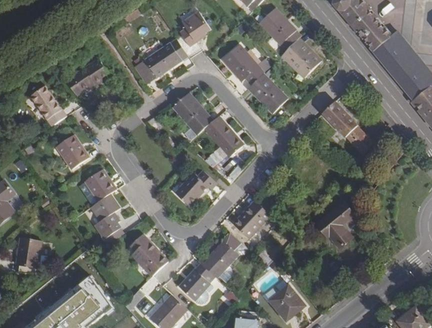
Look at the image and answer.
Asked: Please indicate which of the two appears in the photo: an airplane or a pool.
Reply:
pool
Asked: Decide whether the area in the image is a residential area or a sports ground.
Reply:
residential area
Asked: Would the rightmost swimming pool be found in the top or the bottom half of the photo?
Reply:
bottom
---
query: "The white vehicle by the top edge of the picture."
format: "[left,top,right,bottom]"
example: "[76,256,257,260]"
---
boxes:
[379,2,394,16]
